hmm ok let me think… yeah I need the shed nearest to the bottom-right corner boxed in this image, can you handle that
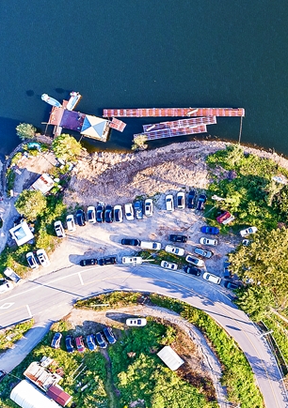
[156,346,187,371]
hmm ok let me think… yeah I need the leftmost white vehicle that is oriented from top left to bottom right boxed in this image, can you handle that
[0,267,20,284]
